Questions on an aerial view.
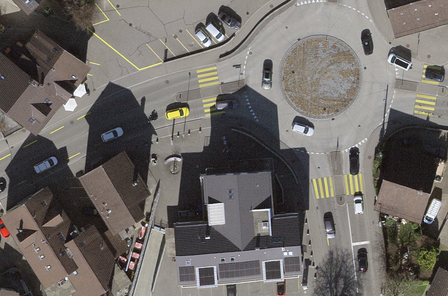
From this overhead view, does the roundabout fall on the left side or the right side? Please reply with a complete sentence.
The roundabout is on the right side of the image.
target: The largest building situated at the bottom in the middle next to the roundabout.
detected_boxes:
[174,171,303,290]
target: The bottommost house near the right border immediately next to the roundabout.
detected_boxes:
[374,150,439,224]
